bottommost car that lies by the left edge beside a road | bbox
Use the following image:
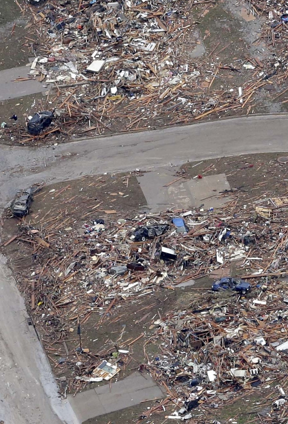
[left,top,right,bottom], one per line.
[9,187,37,217]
